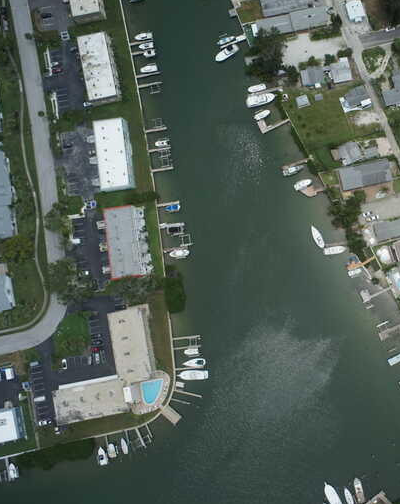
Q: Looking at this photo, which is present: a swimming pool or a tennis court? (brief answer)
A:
swimming pool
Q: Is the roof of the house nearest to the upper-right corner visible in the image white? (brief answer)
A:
Yes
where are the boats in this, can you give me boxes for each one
[327,483,341,504]
[121,437,129,455]
[139,41,155,49]
[155,140,170,146]
[143,49,156,57]
[184,348,200,354]
[170,248,192,257]
[312,226,326,249]
[356,479,364,503]
[245,94,275,107]
[282,166,303,177]
[346,487,354,504]
[167,204,182,211]
[253,110,270,121]
[9,462,18,480]
[98,447,107,468]
[182,357,209,367]
[107,443,117,459]
[293,180,312,190]
[217,43,240,60]
[167,228,181,234]
[140,64,160,72]
[179,369,211,379]
[217,35,235,44]
[247,84,266,93]
[348,269,361,277]
[135,32,155,40]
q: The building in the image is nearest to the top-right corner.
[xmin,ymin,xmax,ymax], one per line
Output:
[346,0,366,25]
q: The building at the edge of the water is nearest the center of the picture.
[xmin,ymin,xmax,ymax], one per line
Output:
[97,206,156,279]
